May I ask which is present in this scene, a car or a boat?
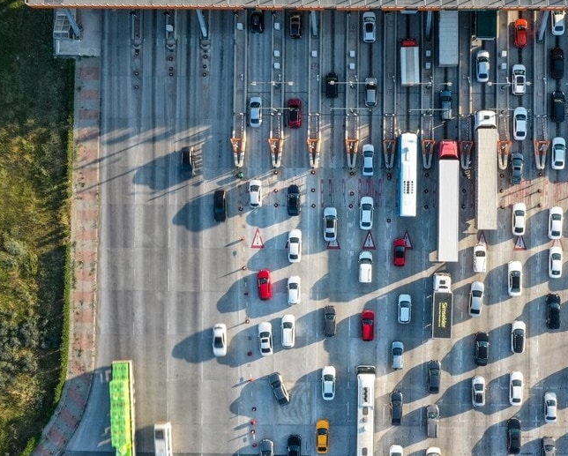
car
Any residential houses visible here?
No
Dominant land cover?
paved ground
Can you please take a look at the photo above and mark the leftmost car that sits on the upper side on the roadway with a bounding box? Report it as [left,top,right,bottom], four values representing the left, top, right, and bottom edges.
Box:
[180,146,196,179]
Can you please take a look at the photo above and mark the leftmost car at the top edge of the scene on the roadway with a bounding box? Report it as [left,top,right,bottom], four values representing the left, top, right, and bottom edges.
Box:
[249,9,266,34]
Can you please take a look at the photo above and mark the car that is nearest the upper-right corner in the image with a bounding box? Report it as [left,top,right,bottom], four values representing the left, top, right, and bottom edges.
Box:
[550,9,566,37]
